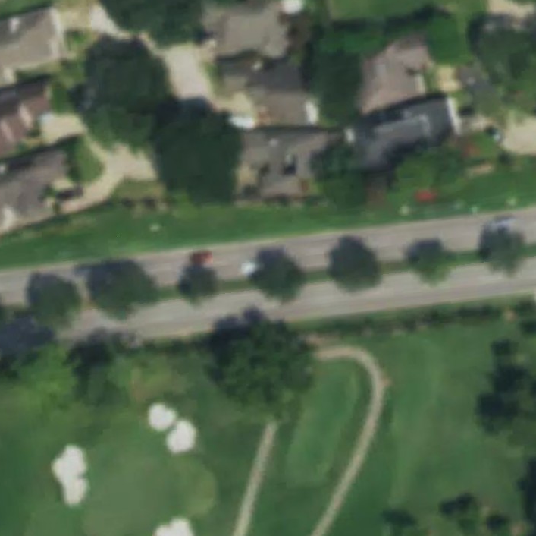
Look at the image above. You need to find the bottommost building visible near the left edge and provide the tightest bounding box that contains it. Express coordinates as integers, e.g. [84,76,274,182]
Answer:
[0,148,89,231]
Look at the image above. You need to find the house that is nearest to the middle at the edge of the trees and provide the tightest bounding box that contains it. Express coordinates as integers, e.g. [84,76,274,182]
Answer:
[240,127,327,206]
